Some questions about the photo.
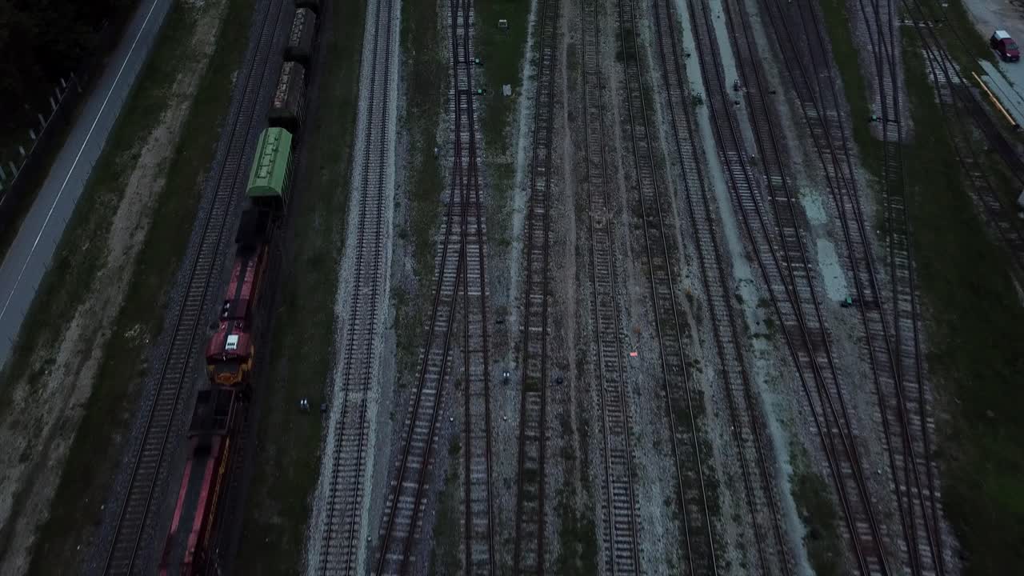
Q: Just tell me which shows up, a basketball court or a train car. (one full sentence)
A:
I can see a train car in this picture.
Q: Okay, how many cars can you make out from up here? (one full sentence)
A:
In total, 1 car can be seen.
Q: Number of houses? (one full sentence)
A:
The picture shows no houses.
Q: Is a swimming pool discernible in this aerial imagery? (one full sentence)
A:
No, there is no swimming pool in the image.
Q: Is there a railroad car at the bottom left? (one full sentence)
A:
Yes, a railroad car can be seen at the bottom left.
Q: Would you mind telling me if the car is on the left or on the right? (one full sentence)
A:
The car is on the right side of the image.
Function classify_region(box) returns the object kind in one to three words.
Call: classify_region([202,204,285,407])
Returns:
rail car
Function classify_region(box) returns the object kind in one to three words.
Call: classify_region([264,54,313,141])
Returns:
rail car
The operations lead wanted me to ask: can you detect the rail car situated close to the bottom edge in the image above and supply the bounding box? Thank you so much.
[153,384,250,576]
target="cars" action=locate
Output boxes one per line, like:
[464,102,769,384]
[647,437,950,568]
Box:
[989,29,1020,63]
